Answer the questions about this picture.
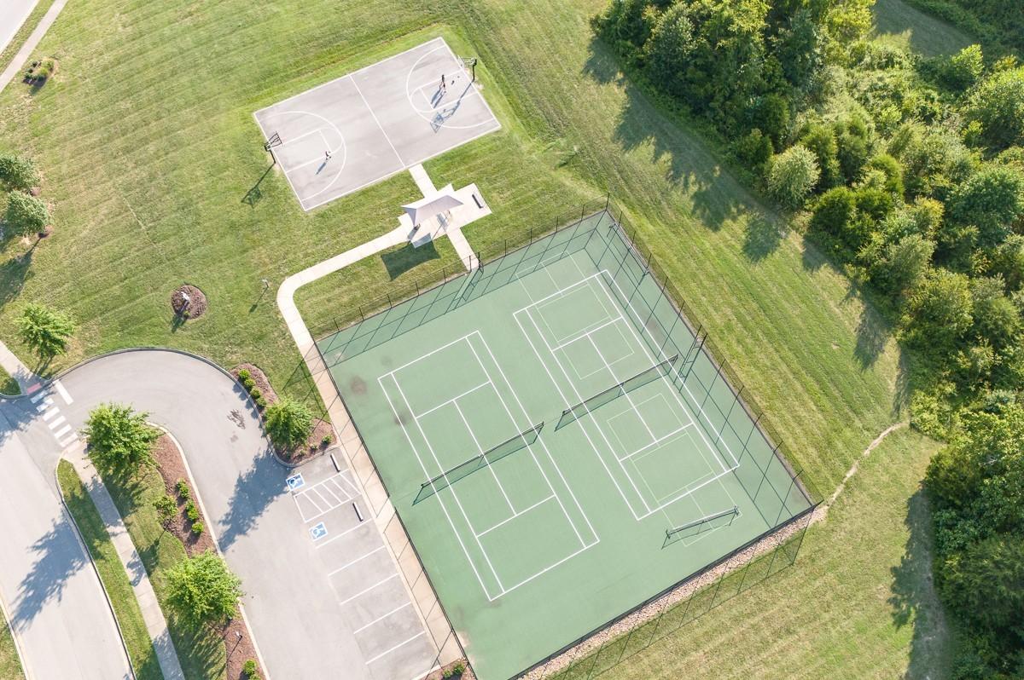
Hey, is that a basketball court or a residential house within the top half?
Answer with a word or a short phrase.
basketball court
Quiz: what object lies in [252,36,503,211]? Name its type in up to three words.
basketball court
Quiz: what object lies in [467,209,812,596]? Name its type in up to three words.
tennis court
